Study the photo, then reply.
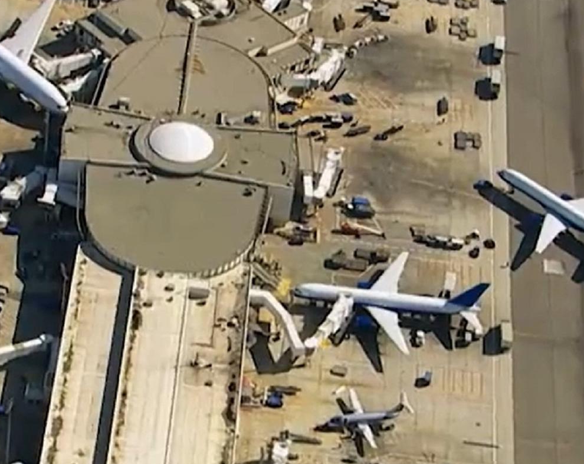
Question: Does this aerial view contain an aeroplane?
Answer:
Yes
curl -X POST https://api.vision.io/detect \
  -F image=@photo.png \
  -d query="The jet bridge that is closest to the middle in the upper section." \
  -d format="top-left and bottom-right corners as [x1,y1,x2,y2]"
[300,144,346,215]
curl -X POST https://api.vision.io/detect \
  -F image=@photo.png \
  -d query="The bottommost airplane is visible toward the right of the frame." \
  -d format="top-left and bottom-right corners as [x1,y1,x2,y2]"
[316,381,419,447]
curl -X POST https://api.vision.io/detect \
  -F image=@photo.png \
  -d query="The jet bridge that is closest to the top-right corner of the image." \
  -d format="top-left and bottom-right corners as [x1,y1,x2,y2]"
[316,43,355,81]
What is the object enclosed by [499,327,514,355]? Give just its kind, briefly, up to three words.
vehicle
